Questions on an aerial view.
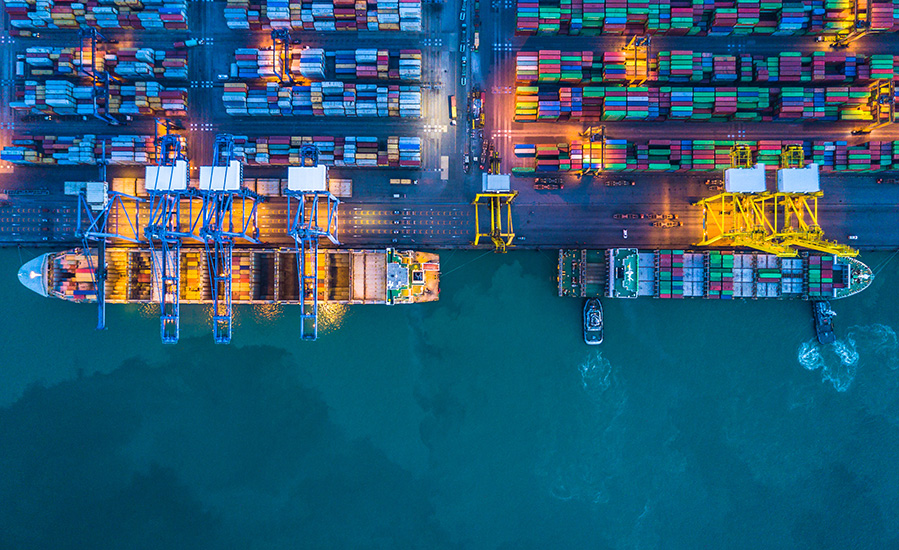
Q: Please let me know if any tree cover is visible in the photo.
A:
No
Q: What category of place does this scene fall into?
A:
port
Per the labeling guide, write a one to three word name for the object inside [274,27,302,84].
crane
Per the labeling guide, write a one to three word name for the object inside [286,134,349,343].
container crane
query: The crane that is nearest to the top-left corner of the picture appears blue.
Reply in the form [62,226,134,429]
[79,25,118,82]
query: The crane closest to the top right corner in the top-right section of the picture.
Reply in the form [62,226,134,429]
[829,0,870,45]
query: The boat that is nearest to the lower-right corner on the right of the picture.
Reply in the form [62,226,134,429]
[810,298,834,345]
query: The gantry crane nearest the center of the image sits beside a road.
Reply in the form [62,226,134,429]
[465,159,523,254]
